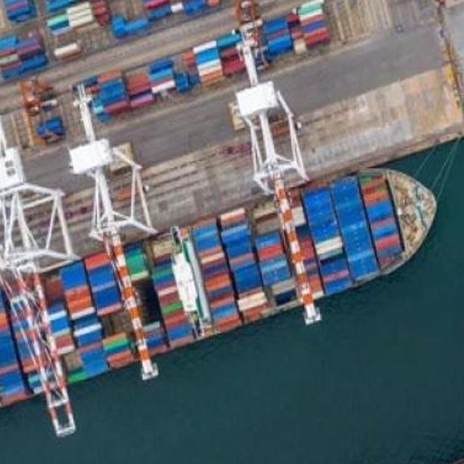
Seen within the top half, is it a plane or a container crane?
container crane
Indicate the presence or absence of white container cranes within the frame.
Yes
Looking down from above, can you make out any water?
Yes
